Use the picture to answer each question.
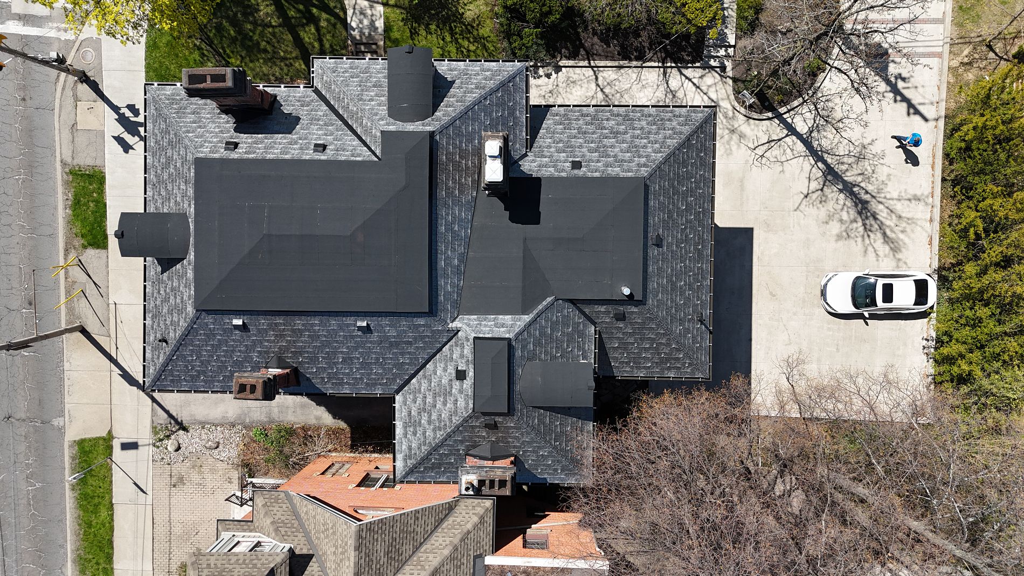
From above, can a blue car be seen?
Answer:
No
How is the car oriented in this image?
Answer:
from side to side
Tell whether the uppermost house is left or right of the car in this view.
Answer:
left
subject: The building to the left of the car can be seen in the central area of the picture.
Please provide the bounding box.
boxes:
[113,43,717,497]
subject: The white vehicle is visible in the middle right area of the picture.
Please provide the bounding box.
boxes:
[818,266,940,321]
